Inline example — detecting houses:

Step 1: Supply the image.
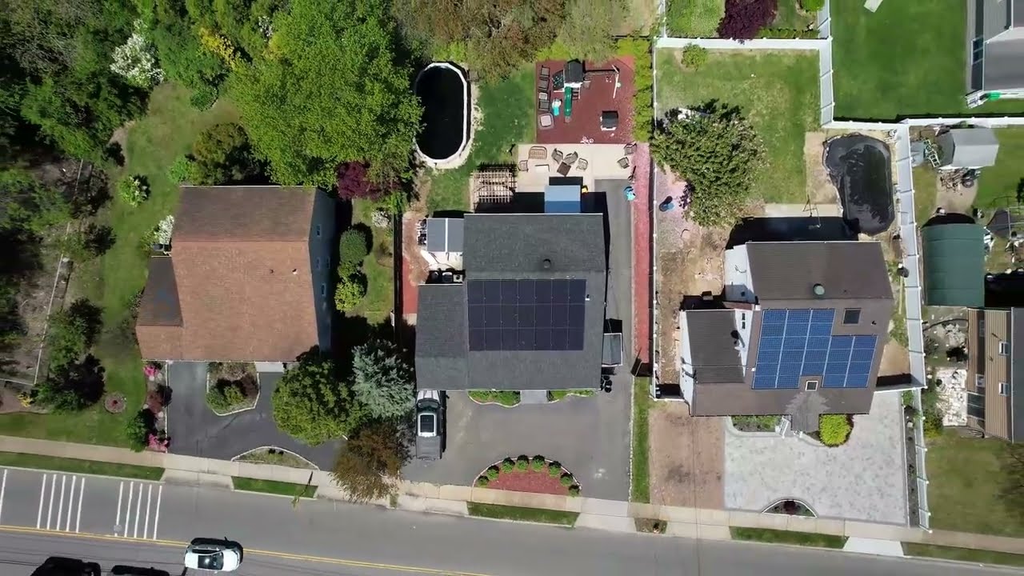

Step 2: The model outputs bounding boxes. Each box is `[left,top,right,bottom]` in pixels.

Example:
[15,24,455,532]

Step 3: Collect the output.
[966,307,1024,450]
[415,212,623,391]
[132,185,329,363]
[972,0,1024,95]
[683,240,904,433]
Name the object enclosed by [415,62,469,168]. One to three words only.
swimming pool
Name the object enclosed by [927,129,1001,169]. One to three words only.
shed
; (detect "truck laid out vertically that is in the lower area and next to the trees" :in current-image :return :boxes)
[414,391,445,460]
